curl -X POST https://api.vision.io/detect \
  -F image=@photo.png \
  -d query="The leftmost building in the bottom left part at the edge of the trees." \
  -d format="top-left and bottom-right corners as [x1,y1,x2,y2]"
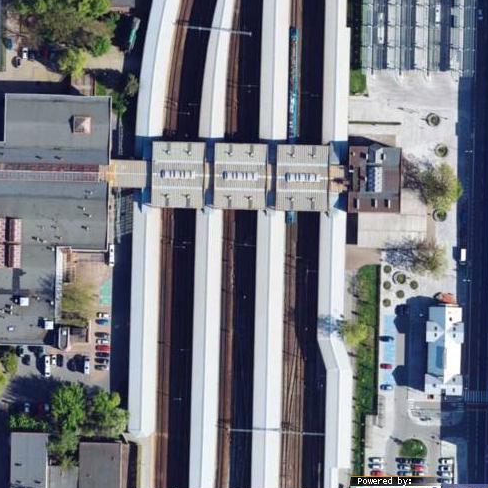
[10,433,48,488]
